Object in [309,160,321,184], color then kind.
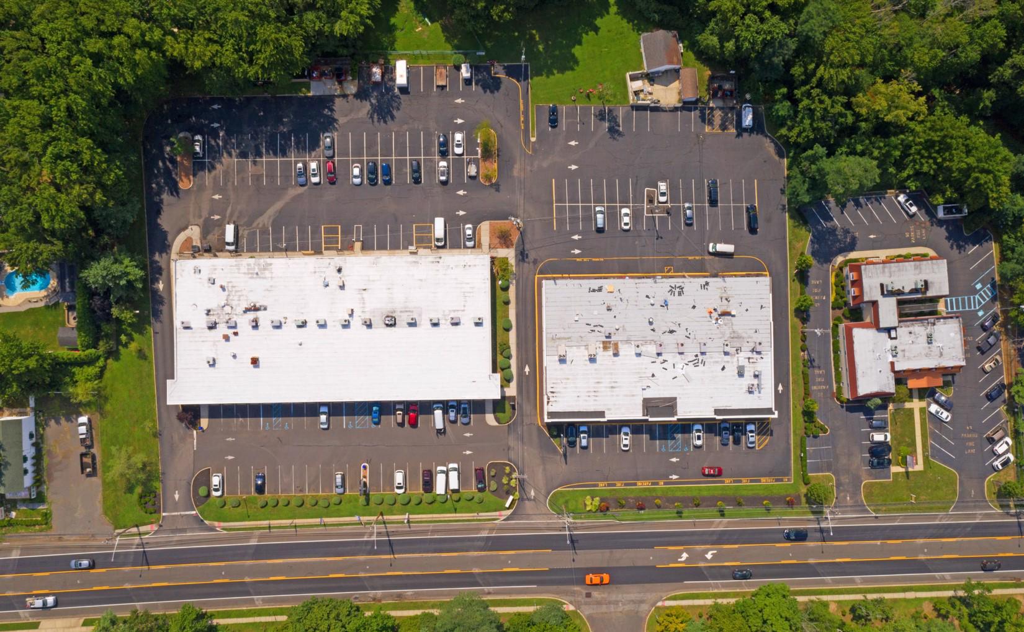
white vehicle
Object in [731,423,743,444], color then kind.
black vehicle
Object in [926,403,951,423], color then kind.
white car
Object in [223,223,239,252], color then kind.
white vehicle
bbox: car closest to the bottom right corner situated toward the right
[978,559,1000,571]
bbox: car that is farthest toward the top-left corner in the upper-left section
[192,134,205,158]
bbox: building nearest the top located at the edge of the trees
[639,29,687,74]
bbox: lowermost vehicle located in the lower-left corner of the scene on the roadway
[26,594,59,609]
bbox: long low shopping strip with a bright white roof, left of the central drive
[166,254,502,405]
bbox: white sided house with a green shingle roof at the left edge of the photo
[0,416,40,499]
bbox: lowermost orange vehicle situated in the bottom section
[585,573,610,585]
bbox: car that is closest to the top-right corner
[896,193,917,217]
